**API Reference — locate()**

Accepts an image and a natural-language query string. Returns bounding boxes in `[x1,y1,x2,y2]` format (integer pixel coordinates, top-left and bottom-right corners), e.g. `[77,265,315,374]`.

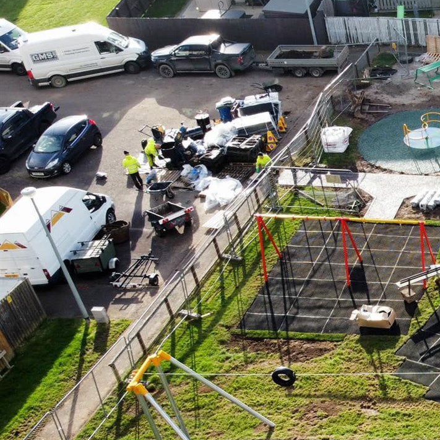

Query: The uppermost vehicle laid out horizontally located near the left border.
[14,19,152,88]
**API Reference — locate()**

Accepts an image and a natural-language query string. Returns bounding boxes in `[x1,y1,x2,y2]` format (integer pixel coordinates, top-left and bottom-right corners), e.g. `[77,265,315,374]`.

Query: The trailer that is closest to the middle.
[140,195,195,235]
